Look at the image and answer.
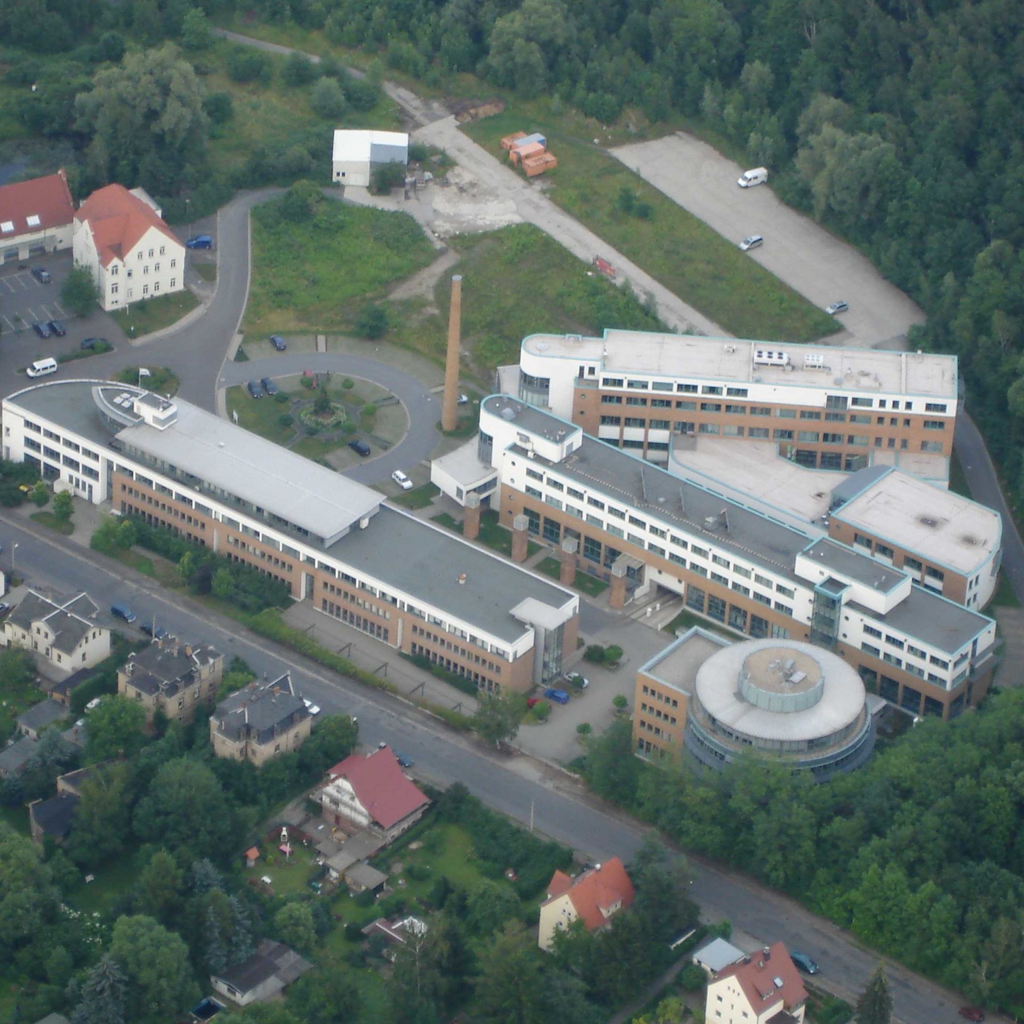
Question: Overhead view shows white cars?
Yes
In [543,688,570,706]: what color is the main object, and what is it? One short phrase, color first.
blue car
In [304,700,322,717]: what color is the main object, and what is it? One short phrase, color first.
white car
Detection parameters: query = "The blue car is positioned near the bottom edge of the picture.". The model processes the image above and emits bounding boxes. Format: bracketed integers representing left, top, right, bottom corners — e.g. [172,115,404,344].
[791,953,818,974]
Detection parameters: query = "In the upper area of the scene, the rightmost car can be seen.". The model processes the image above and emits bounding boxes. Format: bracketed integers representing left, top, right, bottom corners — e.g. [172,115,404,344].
[826,302,848,317]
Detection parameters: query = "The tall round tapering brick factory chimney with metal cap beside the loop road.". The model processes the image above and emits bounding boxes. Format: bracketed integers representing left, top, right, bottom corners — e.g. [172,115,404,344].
[441,271,461,432]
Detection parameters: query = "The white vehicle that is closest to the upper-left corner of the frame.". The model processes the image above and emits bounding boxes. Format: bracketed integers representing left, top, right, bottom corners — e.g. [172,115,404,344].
[28,356,57,379]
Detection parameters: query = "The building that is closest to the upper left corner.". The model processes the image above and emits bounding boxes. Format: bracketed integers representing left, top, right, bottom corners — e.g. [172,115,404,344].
[0,167,82,266]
